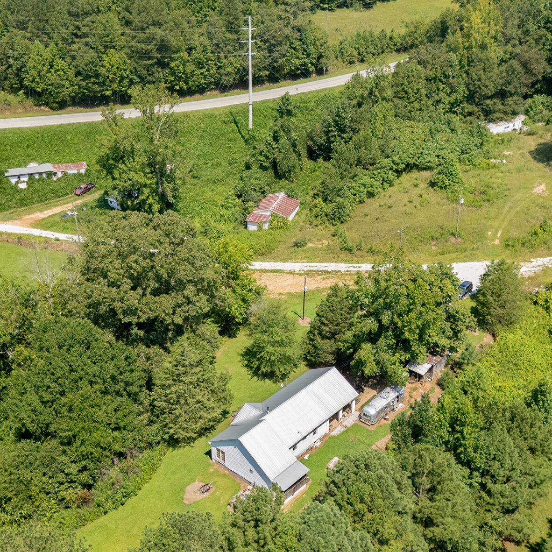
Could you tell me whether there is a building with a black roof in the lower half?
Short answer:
No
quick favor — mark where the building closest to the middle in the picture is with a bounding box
[245,193,300,231]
